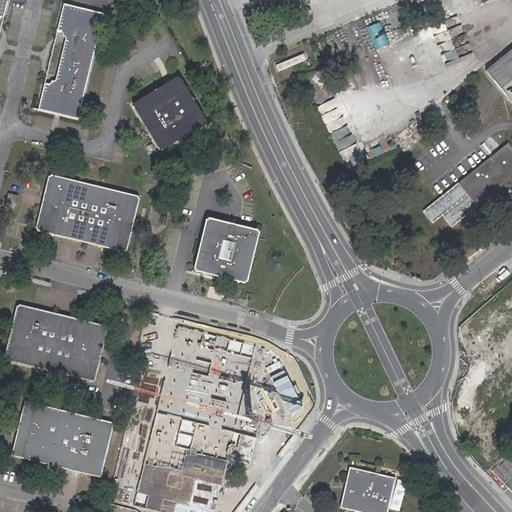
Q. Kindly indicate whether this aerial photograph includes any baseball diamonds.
No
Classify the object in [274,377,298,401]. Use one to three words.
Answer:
building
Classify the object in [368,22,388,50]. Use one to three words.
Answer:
shed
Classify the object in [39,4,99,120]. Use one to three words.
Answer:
building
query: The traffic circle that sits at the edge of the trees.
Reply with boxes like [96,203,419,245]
[276,254,468,441]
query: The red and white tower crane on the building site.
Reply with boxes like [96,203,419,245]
[106,378,313,440]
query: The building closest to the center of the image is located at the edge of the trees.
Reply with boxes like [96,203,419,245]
[196,218,261,282]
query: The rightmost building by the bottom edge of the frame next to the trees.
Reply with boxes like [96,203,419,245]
[338,466,404,512]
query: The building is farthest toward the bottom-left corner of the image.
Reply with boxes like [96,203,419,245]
[14,406,114,476]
